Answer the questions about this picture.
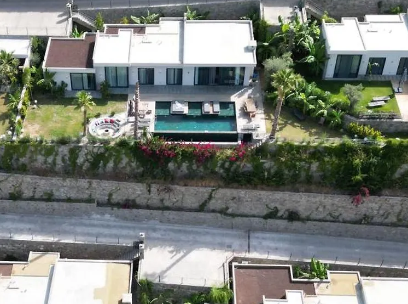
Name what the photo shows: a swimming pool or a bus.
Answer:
swimming pool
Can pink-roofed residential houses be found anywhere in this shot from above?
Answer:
No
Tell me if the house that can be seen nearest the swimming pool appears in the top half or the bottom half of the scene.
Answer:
top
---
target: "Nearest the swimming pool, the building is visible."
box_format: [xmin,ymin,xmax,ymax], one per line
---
[43,17,258,90]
